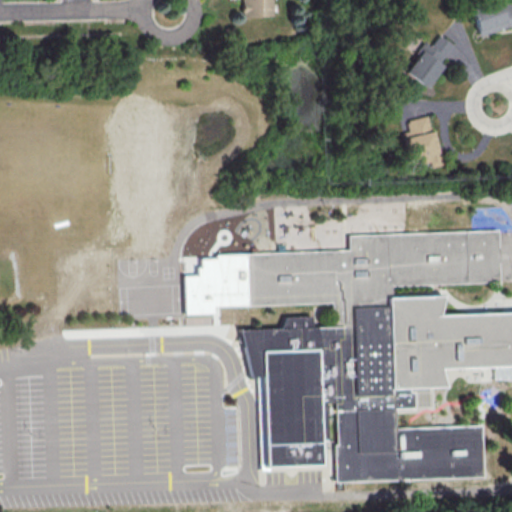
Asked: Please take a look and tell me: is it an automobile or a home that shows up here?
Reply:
home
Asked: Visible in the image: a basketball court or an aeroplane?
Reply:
basketball court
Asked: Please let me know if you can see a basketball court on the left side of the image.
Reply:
Yes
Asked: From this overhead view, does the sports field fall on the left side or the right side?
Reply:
left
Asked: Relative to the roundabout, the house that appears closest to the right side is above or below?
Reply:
above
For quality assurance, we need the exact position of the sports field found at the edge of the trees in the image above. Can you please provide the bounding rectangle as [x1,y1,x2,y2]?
[0,101,112,298]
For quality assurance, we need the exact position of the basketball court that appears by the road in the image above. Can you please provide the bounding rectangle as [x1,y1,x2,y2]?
[118,256,183,319]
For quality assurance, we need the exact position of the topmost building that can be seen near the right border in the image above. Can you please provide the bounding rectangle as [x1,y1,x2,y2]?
[478,4,512,40]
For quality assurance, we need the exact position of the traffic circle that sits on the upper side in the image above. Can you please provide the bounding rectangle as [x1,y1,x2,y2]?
[466,66,512,135]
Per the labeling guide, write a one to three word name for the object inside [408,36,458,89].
house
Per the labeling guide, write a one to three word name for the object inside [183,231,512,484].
building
